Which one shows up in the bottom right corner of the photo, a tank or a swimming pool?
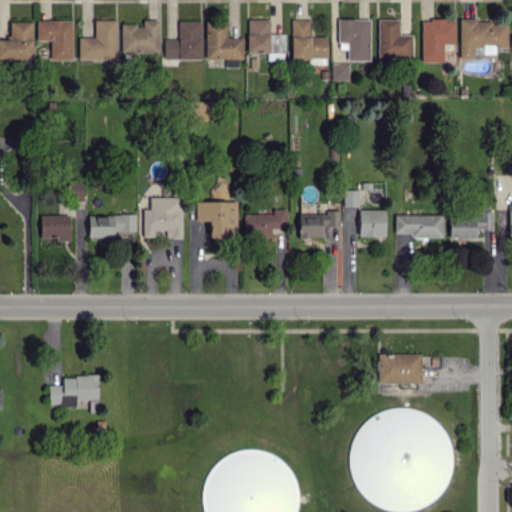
tank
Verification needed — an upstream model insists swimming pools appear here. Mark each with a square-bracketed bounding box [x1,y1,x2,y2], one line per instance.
[151,162,168,180]
[302,186,320,204]
[464,60,495,74]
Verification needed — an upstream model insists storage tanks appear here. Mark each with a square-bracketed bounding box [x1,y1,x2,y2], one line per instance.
[203,450,302,512]
[350,408,455,512]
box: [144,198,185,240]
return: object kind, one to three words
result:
house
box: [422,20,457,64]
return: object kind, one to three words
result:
house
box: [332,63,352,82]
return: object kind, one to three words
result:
building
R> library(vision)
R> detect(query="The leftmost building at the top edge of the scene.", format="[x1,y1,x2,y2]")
[0,22,35,61]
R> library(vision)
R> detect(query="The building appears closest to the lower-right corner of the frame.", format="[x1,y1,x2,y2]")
[379,354,423,384]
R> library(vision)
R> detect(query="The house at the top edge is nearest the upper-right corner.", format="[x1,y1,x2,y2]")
[461,20,512,59]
